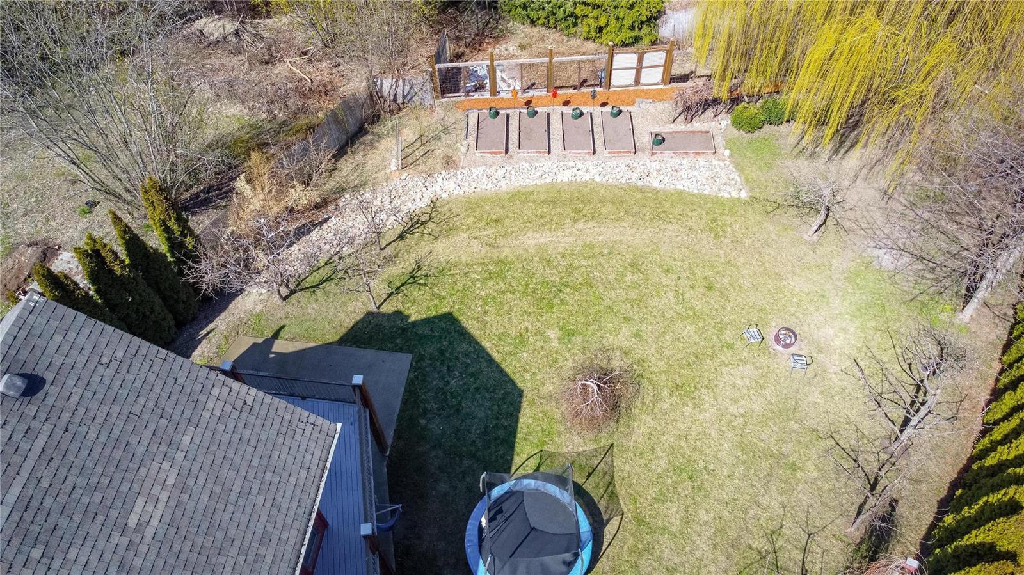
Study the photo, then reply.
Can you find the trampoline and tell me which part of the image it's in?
bottom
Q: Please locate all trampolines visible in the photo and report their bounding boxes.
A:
[464,466,595,575]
